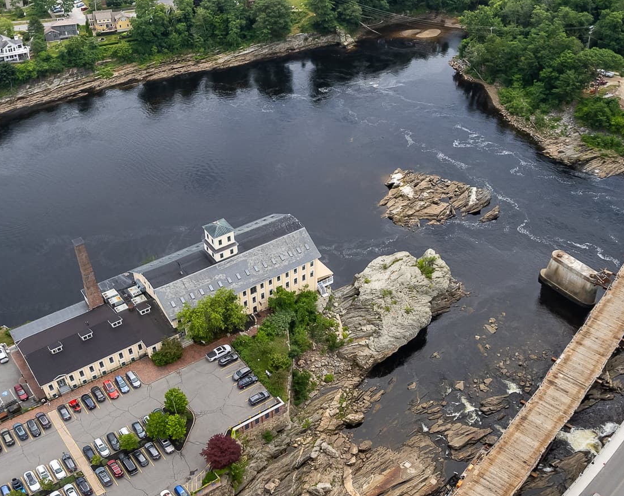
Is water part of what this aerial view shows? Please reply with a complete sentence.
Yes, there is water in the image.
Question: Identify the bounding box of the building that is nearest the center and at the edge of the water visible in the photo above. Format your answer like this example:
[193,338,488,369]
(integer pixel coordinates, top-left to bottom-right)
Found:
[129,214,340,353]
